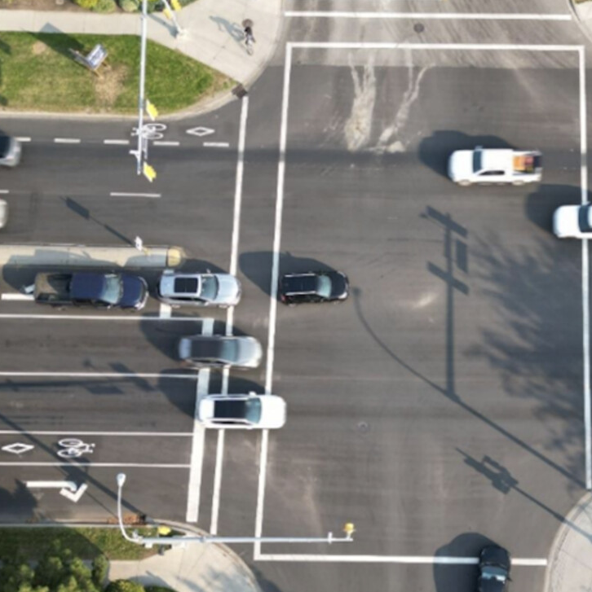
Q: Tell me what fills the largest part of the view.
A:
paved ground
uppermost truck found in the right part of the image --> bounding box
[448,142,543,189]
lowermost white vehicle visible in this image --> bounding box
[196,388,288,432]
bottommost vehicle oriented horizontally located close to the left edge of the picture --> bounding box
[28,267,152,311]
